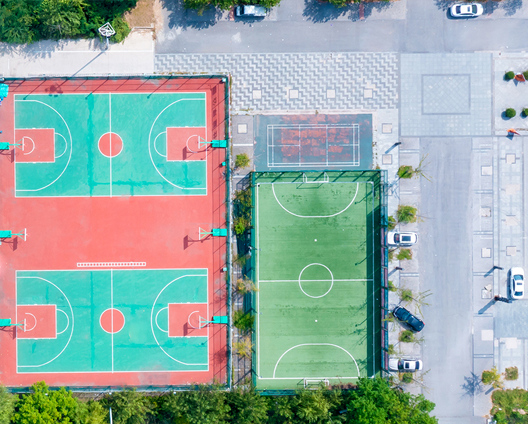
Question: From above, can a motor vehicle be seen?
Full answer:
Yes, a motor vehicle can be made out from above.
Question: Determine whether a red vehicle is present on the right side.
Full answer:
No, no red vehicle appears on the right side.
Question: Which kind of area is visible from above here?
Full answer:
It's a sports ground.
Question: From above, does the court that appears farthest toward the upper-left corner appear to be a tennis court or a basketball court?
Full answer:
I'd say the court that appears farthest toward the upper-left corner is a basketball court.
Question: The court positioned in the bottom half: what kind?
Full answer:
The court positioned in the bottom half can be classified as a basketball court.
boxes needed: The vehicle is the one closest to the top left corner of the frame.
[235,4,268,18]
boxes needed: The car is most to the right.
[509,267,527,300]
